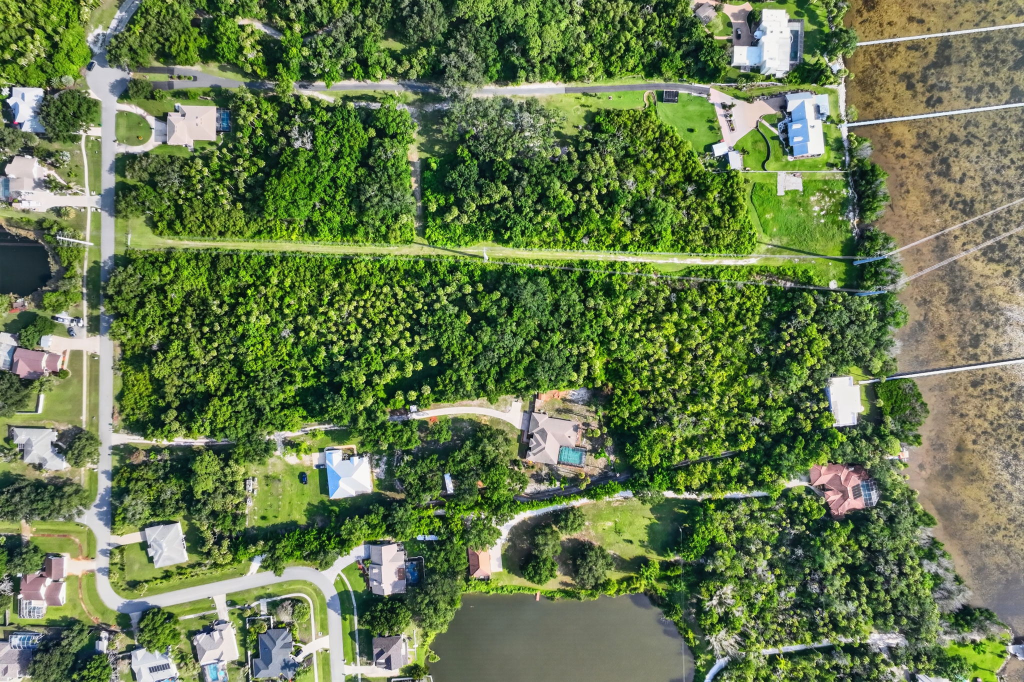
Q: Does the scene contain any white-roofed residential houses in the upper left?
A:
Yes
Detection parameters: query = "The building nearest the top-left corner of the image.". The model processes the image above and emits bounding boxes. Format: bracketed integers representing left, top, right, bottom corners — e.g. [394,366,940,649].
[7,87,48,133]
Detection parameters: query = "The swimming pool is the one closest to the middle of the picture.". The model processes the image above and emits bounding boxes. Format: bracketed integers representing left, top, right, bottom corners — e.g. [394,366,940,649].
[559,447,583,463]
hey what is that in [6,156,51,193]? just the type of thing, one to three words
house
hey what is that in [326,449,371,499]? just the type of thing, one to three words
house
